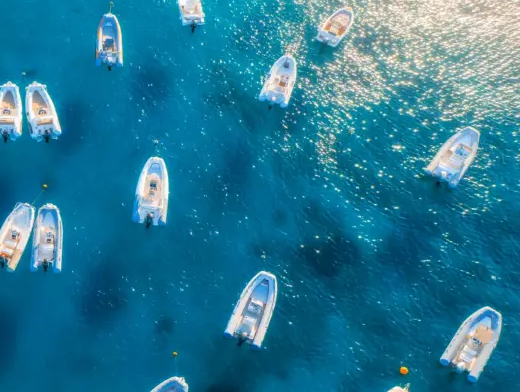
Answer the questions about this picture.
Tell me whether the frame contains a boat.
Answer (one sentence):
Yes, a boat is visible in the scene.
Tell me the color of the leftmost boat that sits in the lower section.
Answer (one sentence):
The leftmost boat that sits in the lower section looks white in the image.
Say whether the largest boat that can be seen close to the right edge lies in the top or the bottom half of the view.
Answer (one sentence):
You can find the largest boat that can be seen close to the right edge in the bottom half.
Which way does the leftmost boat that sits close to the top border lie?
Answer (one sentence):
The leftmost boat that sits close to the top border runs from top to bottom in the image.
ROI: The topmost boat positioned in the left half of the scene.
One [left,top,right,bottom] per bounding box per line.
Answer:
[177,0,205,31]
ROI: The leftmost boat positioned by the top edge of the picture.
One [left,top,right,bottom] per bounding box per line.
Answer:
[95,14,123,72]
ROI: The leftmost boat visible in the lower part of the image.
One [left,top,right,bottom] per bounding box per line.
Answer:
[0,201,34,274]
